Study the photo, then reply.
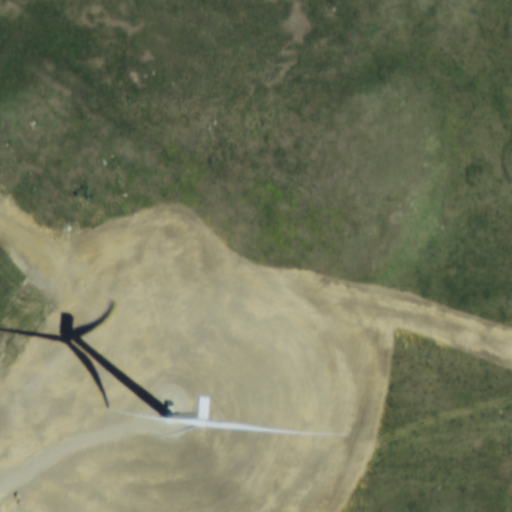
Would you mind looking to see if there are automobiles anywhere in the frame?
No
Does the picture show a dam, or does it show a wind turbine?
wind turbine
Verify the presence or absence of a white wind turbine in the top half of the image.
No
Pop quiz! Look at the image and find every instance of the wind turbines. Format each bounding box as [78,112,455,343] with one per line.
[104,396,341,438]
